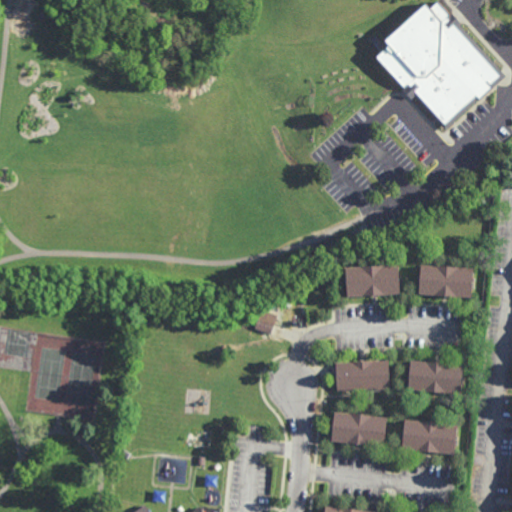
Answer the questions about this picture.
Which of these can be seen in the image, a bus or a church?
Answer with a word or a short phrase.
church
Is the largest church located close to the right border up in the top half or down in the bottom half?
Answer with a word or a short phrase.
top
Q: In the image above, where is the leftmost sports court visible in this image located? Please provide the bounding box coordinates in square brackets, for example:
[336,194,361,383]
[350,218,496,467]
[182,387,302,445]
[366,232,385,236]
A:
[0,326,38,372]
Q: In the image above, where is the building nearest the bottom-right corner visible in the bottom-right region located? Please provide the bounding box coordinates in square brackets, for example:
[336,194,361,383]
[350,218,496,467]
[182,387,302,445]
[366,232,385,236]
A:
[402,418,460,454]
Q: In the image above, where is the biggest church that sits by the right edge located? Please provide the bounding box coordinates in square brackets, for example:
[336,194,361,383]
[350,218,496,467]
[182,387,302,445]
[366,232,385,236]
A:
[376,2,501,128]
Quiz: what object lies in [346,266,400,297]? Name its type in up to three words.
house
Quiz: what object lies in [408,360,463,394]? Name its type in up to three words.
house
